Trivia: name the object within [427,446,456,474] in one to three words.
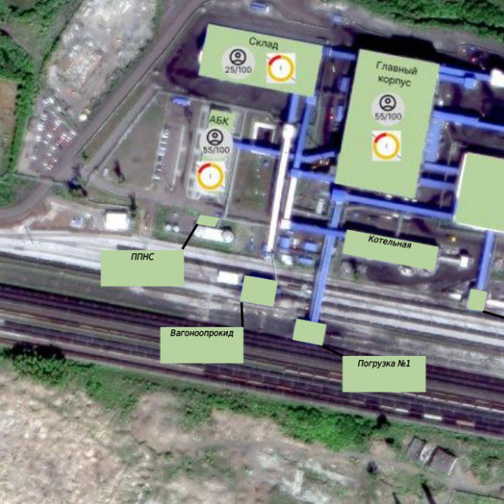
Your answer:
shed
